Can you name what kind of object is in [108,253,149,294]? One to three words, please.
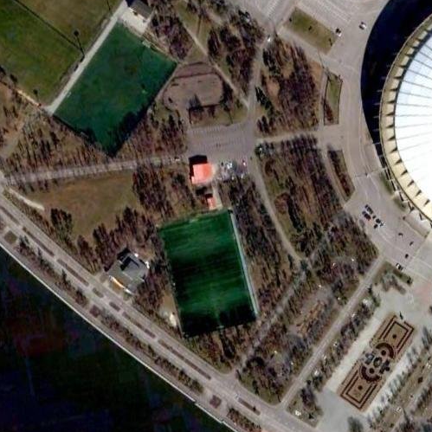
house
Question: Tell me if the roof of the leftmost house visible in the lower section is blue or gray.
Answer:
gray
